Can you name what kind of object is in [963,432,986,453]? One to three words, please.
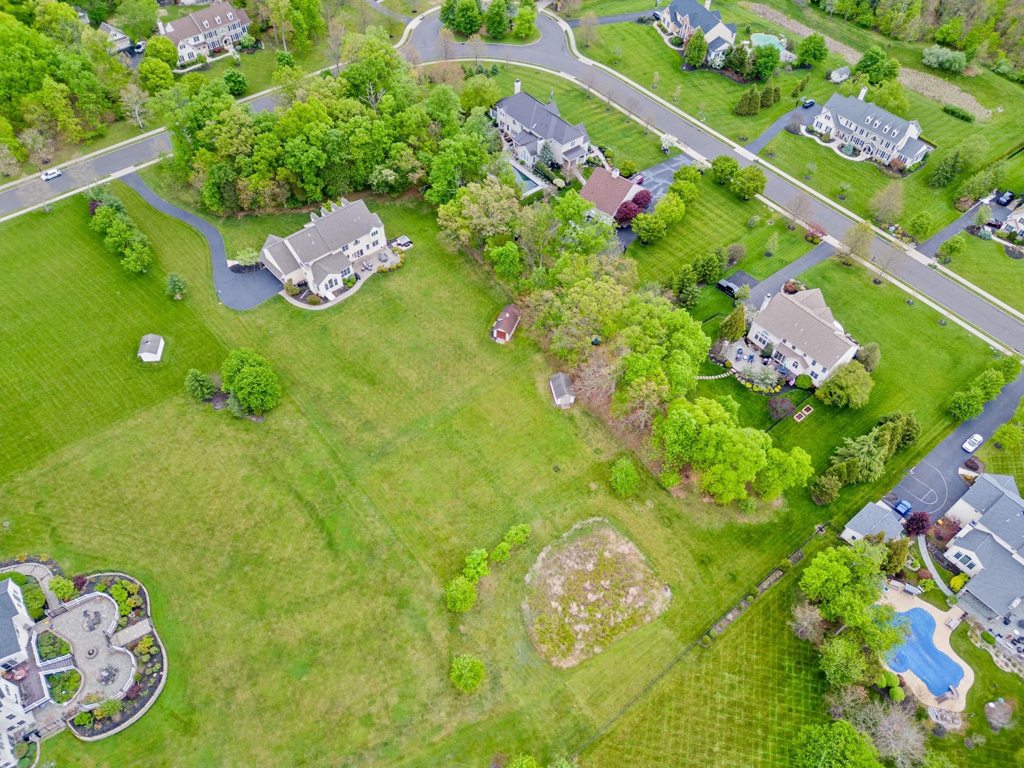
car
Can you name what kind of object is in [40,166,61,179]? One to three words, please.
vehicle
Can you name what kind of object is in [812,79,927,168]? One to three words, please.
house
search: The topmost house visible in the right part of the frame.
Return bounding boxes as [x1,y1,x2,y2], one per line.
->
[652,0,742,61]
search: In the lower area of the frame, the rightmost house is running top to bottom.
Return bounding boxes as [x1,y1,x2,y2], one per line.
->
[943,459,1024,628]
